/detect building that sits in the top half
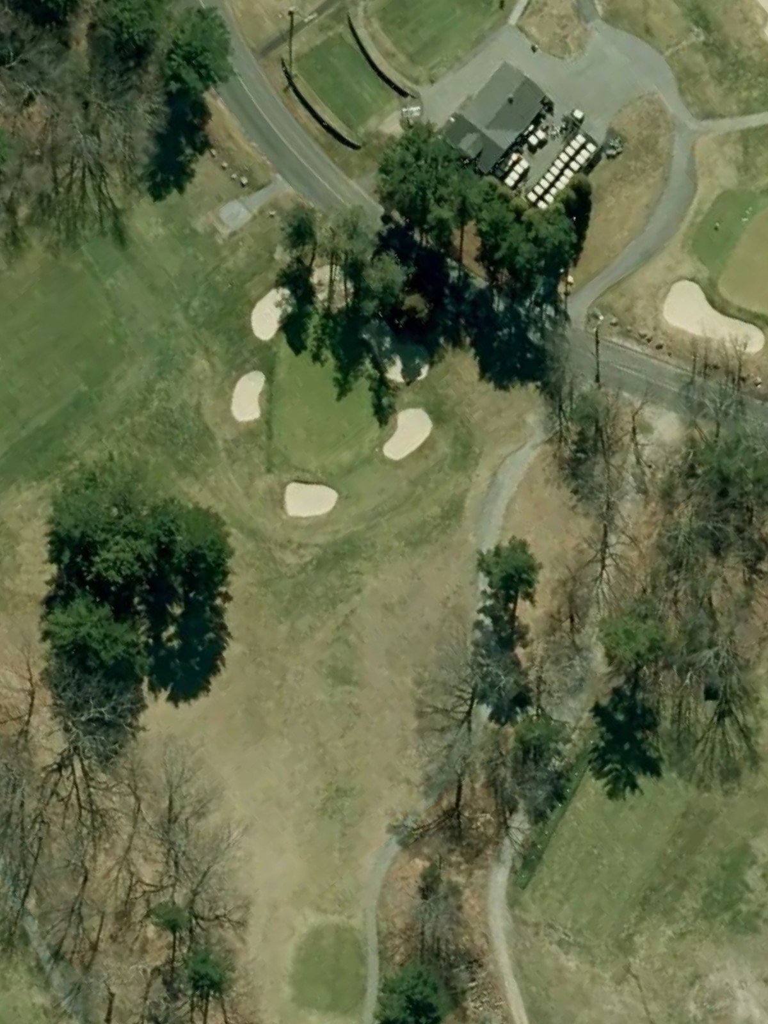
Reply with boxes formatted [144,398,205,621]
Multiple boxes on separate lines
[440,62,547,166]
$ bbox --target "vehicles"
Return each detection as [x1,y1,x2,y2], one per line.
[542,193,555,207]
[572,109,585,123]
[579,148,592,163]
[552,159,566,173]
[584,143,597,157]
[553,180,565,190]
[524,123,537,135]
[531,185,545,200]
[568,161,581,175]
[562,168,574,182]
[533,130,547,144]
[569,140,582,154]
[508,152,522,165]
[558,175,570,189]
[547,186,558,196]
[525,191,538,204]
[558,152,571,167]
[563,146,577,161]
[575,134,588,148]
[548,165,561,180]
[519,159,531,173]
[537,178,551,193]
[574,154,587,169]
[526,135,540,149]
[543,172,557,186]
